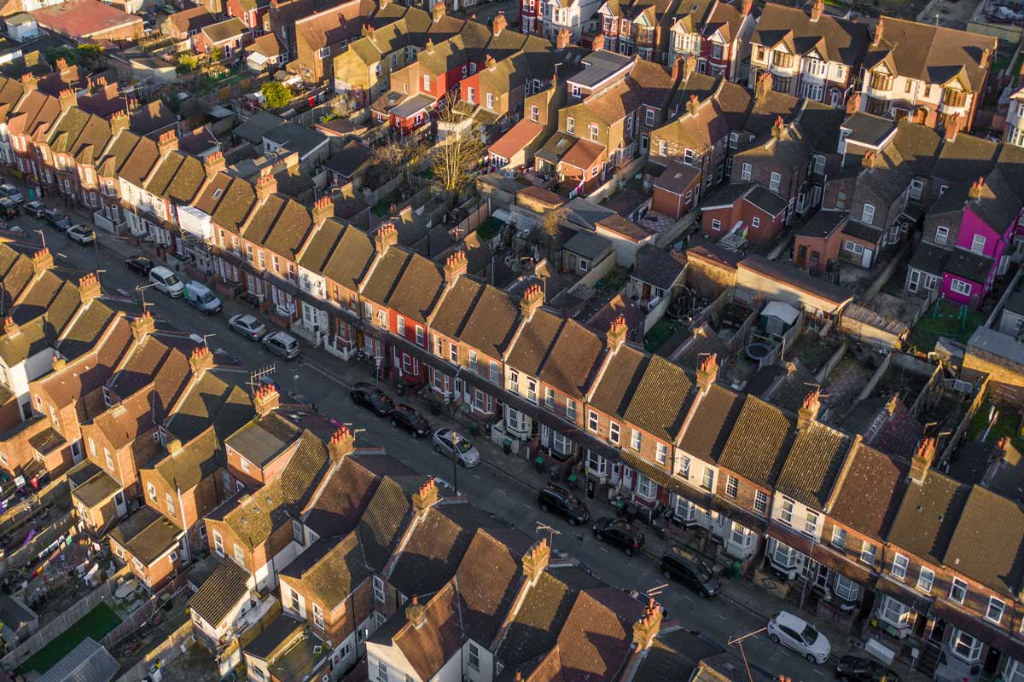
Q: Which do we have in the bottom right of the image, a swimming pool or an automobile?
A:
automobile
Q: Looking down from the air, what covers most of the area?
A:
buildings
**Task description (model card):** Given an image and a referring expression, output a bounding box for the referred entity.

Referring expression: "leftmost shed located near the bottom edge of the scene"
[0,598,51,678]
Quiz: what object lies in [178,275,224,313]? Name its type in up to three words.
van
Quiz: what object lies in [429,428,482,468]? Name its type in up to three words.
car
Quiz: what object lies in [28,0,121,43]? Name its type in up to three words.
building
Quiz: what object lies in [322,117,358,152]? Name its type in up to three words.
shed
